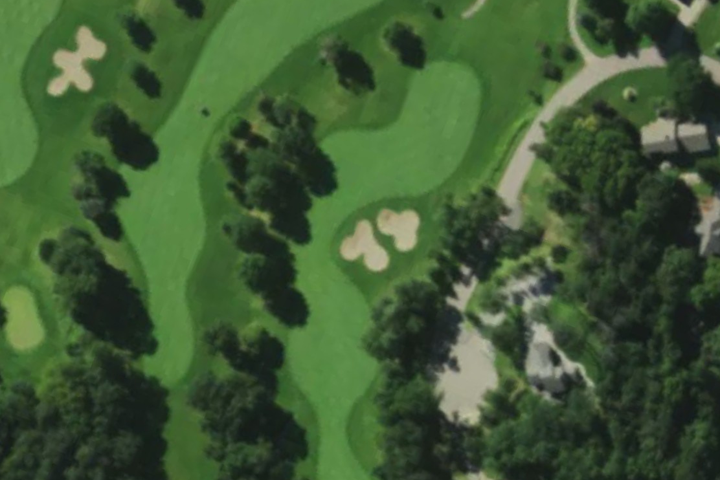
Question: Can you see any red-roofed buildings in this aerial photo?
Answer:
No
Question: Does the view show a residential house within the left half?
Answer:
No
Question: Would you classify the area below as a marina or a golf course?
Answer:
golf course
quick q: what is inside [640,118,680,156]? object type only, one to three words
house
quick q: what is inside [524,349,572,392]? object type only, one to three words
house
